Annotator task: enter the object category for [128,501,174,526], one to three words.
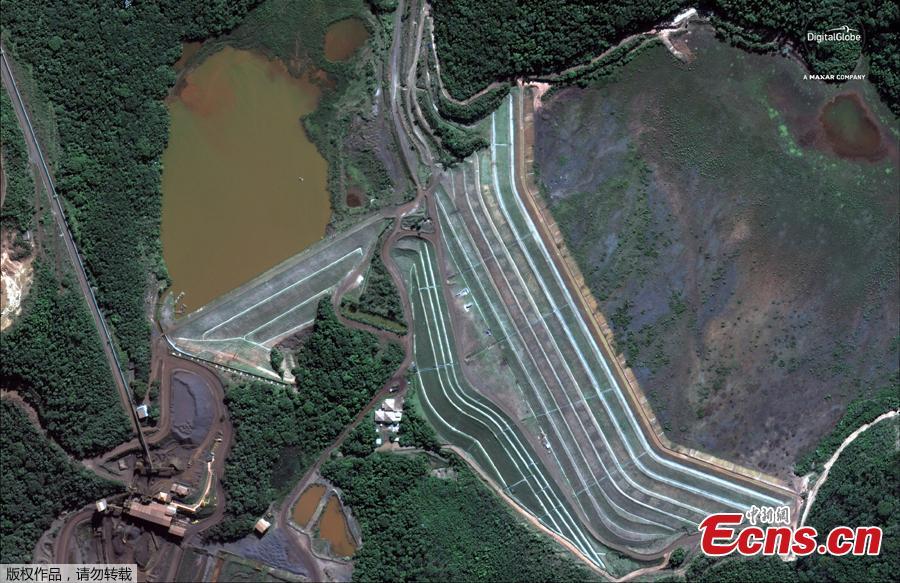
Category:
building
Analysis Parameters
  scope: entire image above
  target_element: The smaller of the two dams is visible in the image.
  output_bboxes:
[173,224,386,352]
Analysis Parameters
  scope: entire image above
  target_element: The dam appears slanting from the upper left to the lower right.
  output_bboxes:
[435,80,804,555]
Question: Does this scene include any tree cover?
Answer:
Yes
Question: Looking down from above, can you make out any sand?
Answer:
Yes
